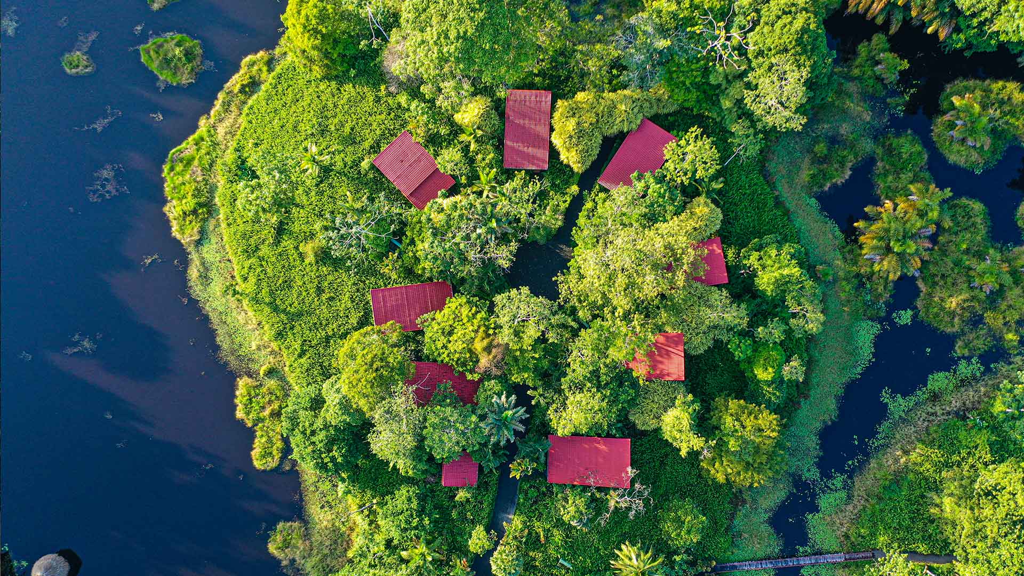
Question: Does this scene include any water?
Yes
